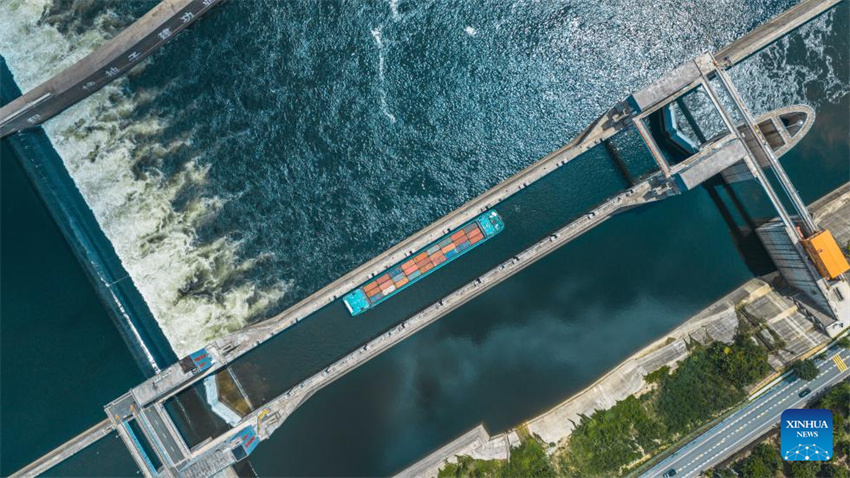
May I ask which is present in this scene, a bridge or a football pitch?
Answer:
bridge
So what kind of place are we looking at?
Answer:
port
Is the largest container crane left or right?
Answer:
right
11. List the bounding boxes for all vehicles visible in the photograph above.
[665,469,676,478]
[798,390,809,399]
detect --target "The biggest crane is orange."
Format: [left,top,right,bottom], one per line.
[794,226,849,276]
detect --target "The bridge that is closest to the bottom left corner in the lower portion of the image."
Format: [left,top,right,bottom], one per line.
[141,402,190,470]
